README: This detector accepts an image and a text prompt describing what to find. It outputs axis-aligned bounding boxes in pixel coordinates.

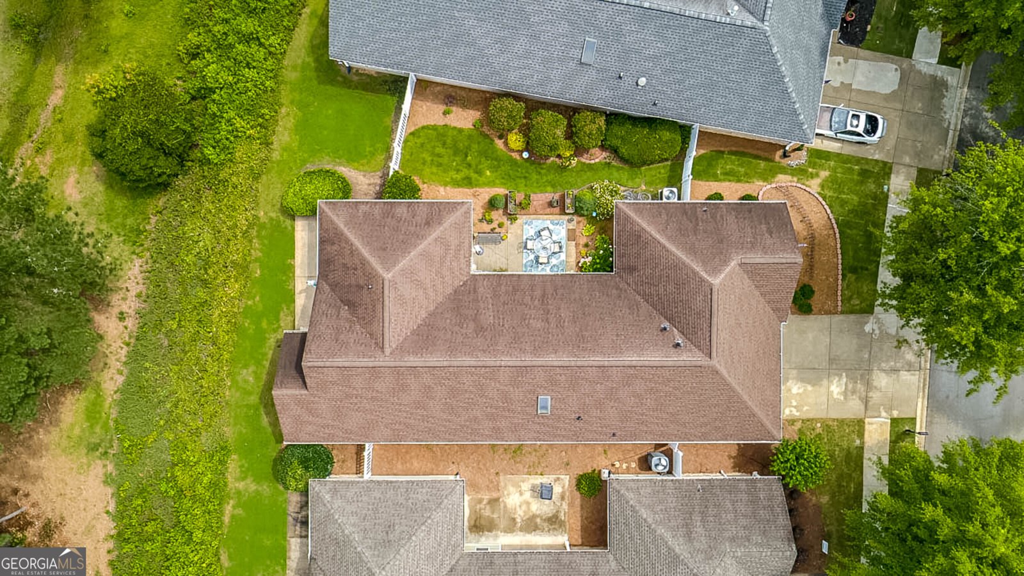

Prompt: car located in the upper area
[814,100,891,145]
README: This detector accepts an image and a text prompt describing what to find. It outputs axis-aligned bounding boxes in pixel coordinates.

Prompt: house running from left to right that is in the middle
[272,199,802,445]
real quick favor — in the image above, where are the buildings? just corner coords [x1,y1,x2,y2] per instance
[319,0,845,155]
[308,469,795,576]
[272,199,802,445]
